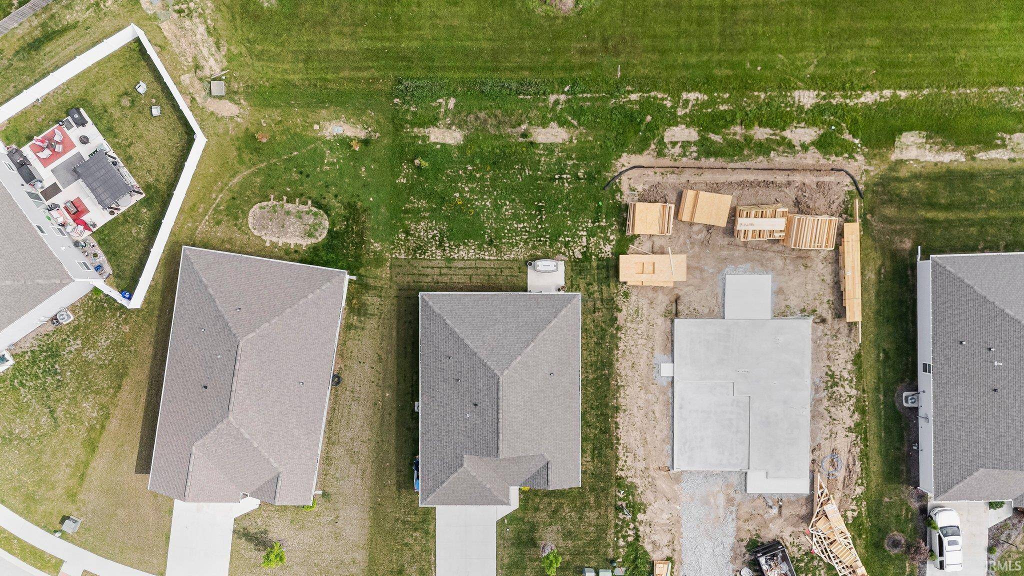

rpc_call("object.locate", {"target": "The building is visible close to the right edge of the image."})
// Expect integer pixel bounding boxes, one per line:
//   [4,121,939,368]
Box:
[917,247,1024,508]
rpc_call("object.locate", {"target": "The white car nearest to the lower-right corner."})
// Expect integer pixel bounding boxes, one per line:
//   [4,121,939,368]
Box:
[929,506,963,573]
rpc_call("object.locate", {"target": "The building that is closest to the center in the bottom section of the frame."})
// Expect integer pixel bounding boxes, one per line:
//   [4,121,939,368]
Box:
[418,292,582,507]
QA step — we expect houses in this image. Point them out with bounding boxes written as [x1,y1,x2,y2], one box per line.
[917,247,1024,508]
[0,152,102,356]
[418,292,582,507]
[148,246,357,505]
